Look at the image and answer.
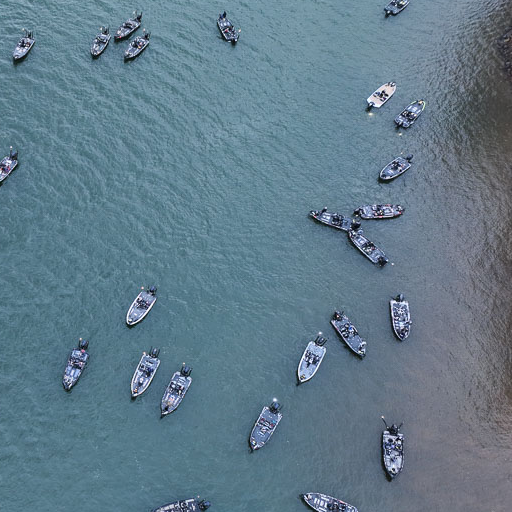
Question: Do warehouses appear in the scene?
No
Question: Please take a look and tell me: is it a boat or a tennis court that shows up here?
boat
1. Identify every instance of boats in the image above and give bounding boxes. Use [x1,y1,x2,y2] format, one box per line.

[299,333,326,383]
[128,285,157,326]
[92,26,111,56]
[380,152,413,181]
[354,204,406,219]
[12,29,35,60]
[349,229,394,267]
[125,30,149,59]
[383,418,405,479]
[219,14,240,44]
[0,147,18,182]
[251,399,282,451]
[64,341,89,390]
[332,309,366,357]
[131,348,160,397]
[154,497,208,512]
[114,14,141,40]
[367,80,397,109]
[384,0,410,16]
[304,492,360,512]
[160,363,192,414]
[395,99,425,128]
